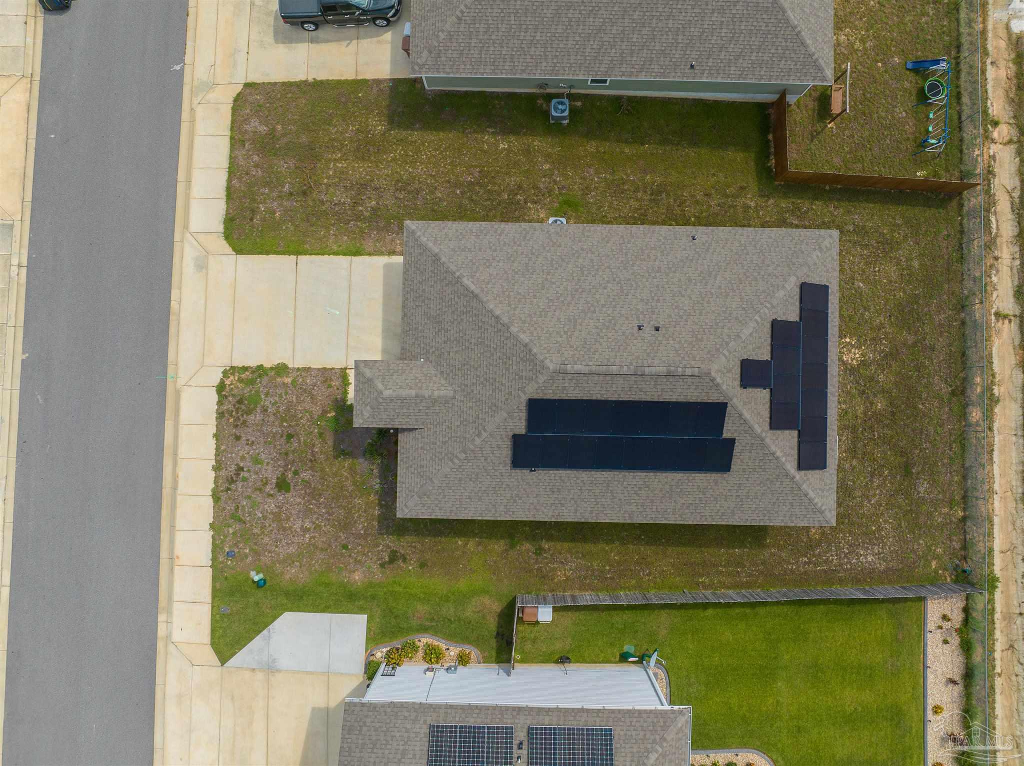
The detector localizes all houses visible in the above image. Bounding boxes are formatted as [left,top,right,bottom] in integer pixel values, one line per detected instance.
[353,221,839,526]
[411,0,834,104]
[339,662,694,766]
